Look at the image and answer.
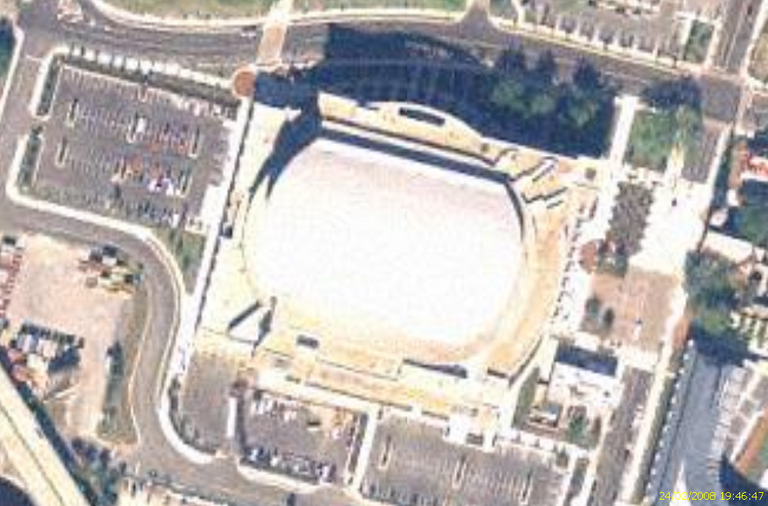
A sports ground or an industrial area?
sports ground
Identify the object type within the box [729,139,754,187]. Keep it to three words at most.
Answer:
house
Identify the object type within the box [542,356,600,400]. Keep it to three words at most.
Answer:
building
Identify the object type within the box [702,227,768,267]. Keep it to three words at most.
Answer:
building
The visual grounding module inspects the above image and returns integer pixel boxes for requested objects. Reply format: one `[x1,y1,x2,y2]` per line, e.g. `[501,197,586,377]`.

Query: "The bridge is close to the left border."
[0,372,88,506]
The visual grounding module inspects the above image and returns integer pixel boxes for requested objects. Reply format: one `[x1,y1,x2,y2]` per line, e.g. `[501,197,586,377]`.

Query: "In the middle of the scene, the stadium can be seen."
[200,94,606,451]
